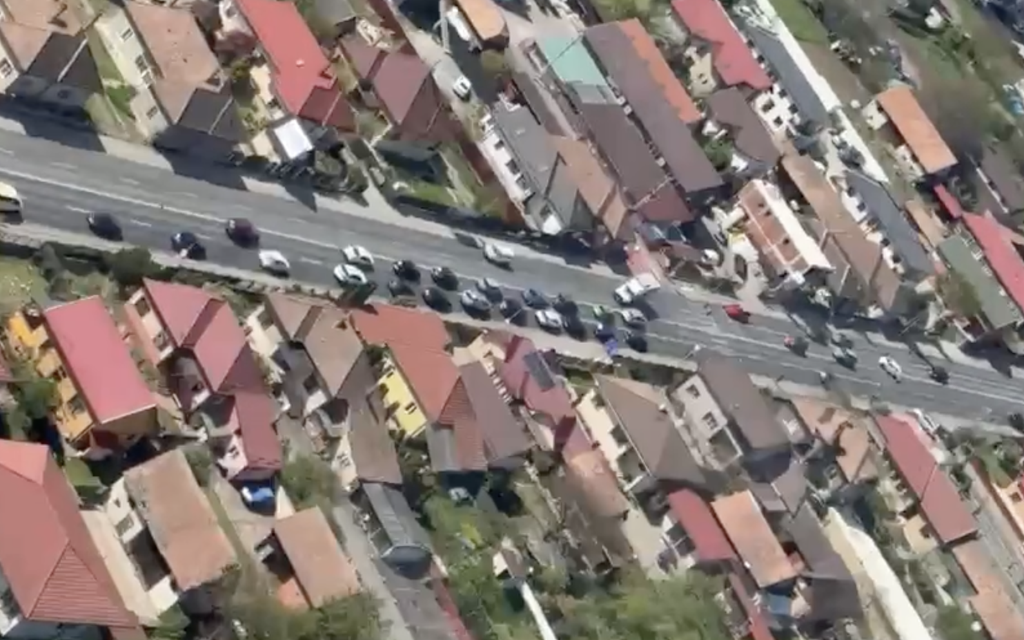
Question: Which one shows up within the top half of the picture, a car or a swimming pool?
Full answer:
There is a car within the top half of the picture.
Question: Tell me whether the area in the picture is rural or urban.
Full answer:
From above, the setting appears urban.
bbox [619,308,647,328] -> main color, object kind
gray car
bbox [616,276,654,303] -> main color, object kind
white truck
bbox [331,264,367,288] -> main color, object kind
white car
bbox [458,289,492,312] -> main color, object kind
gray car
